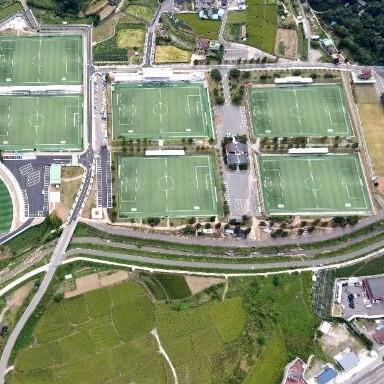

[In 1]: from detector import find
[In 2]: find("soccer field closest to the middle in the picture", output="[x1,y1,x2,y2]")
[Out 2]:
[117,153,219,218]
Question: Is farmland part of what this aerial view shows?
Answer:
Yes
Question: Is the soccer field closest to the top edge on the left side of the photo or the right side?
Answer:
left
